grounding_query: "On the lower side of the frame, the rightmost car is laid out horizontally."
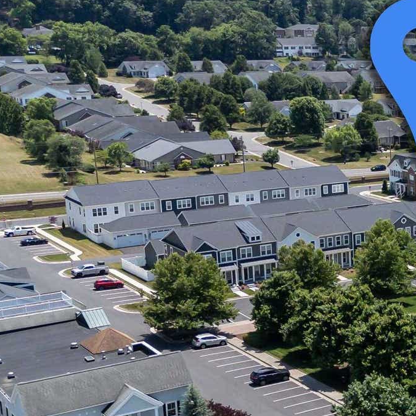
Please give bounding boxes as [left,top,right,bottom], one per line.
[248,365,291,386]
